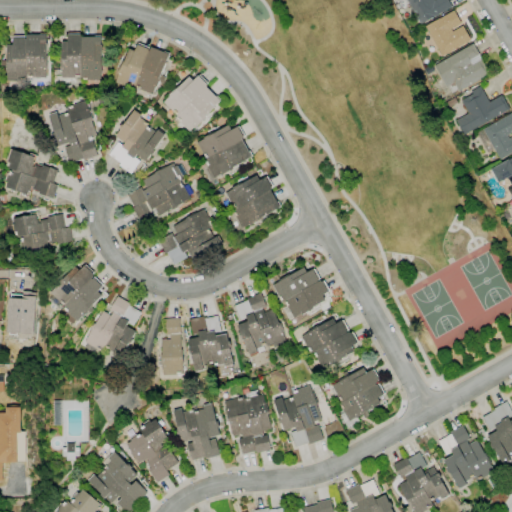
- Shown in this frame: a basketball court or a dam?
basketball court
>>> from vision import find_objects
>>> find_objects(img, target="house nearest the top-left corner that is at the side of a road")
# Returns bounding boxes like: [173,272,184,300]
[6,33,46,80]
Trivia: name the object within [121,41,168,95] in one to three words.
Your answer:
house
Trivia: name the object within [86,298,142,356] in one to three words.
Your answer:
house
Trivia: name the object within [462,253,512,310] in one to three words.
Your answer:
basketball court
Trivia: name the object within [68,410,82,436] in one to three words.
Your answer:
swimming pool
